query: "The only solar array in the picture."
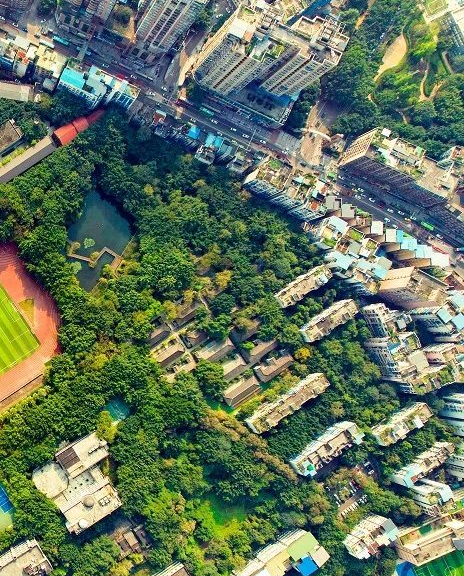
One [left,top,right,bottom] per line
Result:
[57,447,80,470]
